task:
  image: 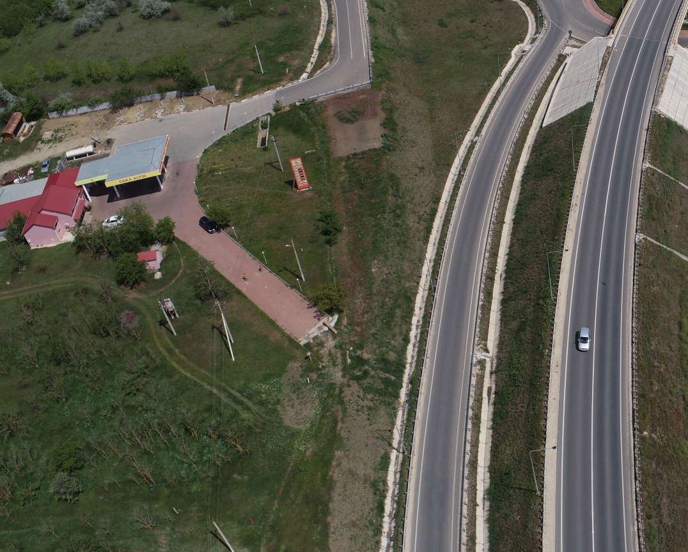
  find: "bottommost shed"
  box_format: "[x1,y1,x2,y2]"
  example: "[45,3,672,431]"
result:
[137,250,161,271]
